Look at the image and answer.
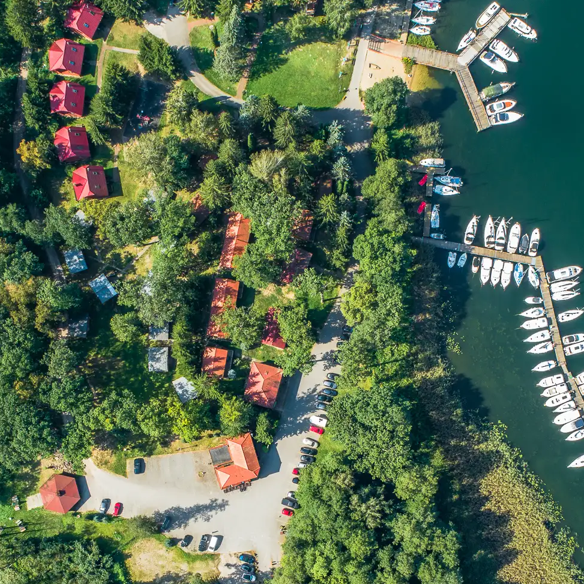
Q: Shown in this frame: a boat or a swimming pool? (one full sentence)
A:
Of the two, only a boat appears.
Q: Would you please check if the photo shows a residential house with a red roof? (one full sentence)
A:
Yes, a residential house with a red roof can be made out from above.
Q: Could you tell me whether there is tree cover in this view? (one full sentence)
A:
Yes, tree cover shows up in the scene.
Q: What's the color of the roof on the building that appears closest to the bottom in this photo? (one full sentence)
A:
From above, the roof of the building that appears closest to the bottom looks red.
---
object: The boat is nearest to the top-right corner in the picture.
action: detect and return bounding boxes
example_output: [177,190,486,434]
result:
[506,18,537,37]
